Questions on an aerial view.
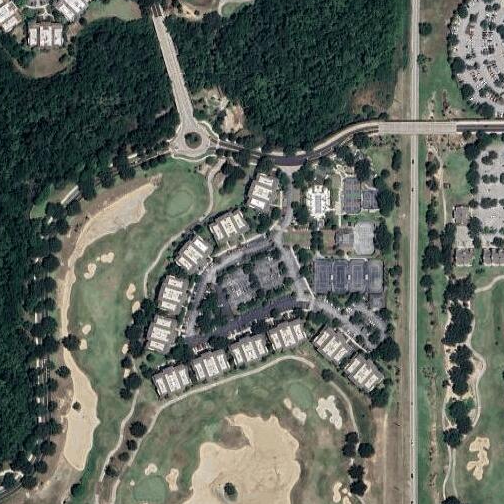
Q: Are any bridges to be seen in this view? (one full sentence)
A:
Yes, the image includes a bridge.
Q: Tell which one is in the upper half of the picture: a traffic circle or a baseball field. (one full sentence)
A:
The one visible in the upper half of the picture is a traffic circle.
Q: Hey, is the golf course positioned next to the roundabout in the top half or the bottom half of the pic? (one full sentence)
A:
The golf course positioned next to the roundabout is in the bottom half of the image.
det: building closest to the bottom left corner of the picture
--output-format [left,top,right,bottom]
[152,364,192,401]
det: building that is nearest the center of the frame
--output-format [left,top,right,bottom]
[208,206,249,245]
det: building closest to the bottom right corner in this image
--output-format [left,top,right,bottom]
[342,354,384,395]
